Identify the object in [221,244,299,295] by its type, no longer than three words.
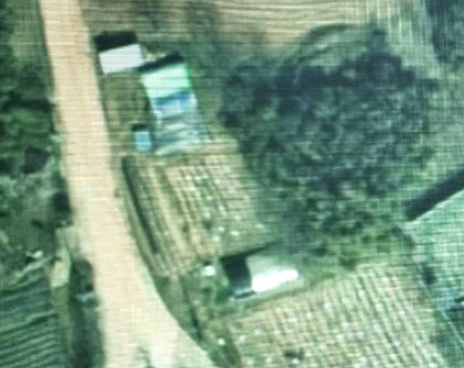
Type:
greenhouse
